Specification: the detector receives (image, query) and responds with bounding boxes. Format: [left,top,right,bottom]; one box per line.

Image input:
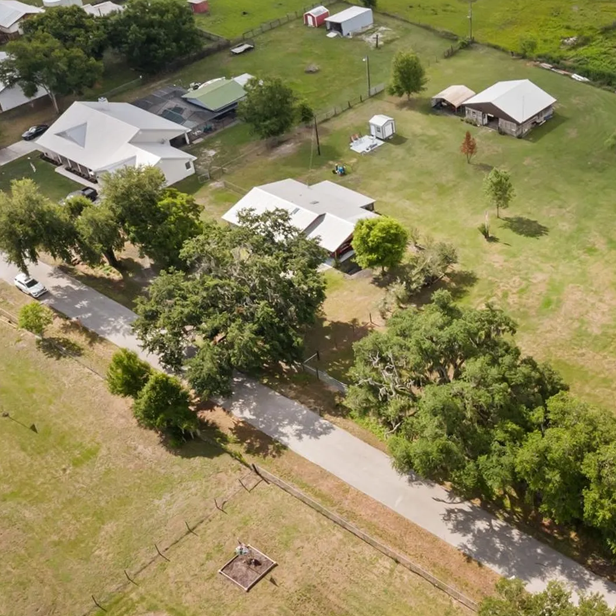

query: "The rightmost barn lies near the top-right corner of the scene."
[460,80,558,139]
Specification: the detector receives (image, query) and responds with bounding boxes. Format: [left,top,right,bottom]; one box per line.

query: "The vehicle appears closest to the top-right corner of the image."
[335,161,347,175]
